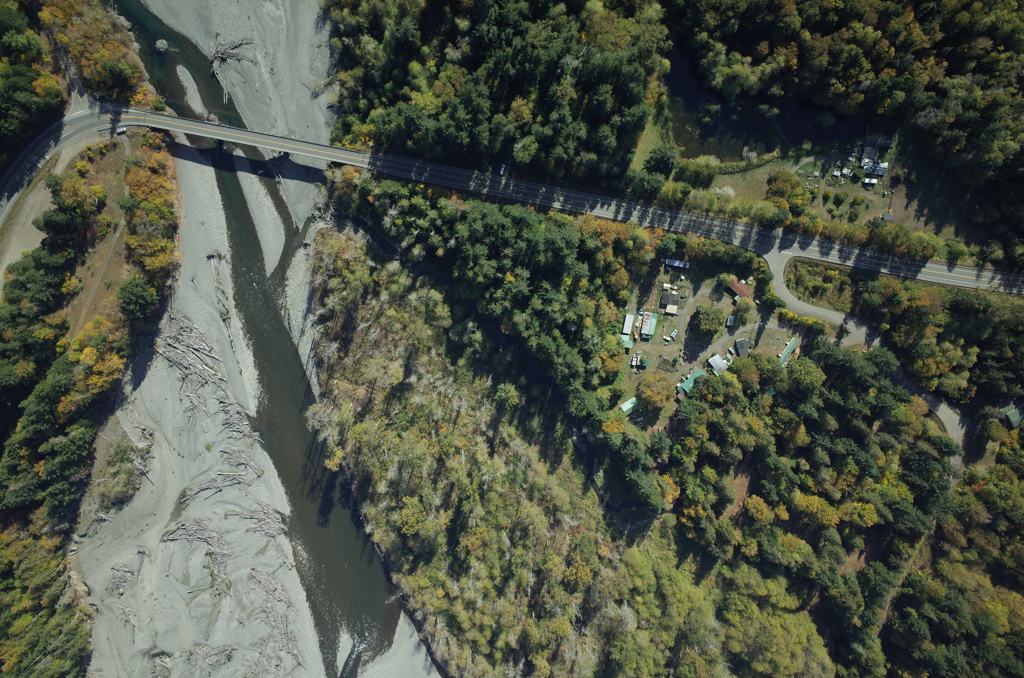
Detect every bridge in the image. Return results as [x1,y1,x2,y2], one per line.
[149,109,332,162]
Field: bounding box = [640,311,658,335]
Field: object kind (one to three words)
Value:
building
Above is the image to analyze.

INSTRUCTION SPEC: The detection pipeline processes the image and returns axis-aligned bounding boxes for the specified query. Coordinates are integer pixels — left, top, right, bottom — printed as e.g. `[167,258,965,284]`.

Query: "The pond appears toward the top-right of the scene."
[665,44,867,161]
